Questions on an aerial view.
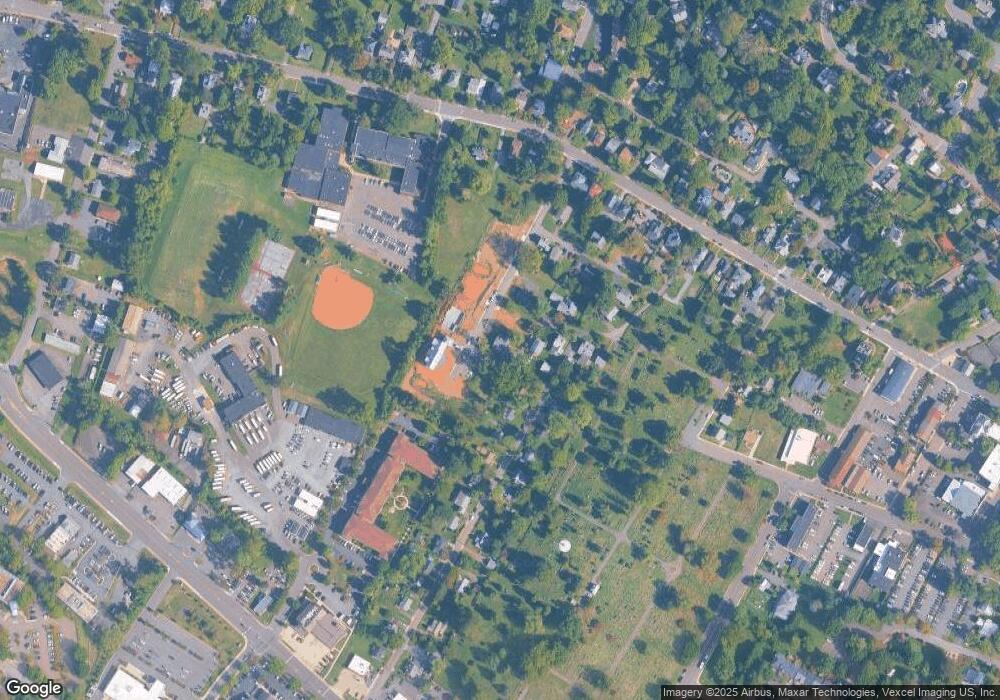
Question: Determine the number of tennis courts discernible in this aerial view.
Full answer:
The picture shows just 1 tennis court.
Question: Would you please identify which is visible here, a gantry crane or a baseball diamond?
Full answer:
It is a baseball diamond that can be seen here.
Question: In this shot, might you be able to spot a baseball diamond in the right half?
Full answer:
No, looking in the right half, there is no baseball diamond.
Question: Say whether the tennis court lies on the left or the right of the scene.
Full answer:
The tennis court appears in the left half of the scene.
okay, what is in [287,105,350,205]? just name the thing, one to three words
building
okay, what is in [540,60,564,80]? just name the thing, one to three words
house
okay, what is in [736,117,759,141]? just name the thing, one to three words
house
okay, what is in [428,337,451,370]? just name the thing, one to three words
building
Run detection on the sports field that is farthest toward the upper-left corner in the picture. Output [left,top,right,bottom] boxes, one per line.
[136,142,316,345]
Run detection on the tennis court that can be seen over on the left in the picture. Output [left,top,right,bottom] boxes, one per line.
[240,240,297,309]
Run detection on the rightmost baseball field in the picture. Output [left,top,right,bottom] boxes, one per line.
[238,236,430,416]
